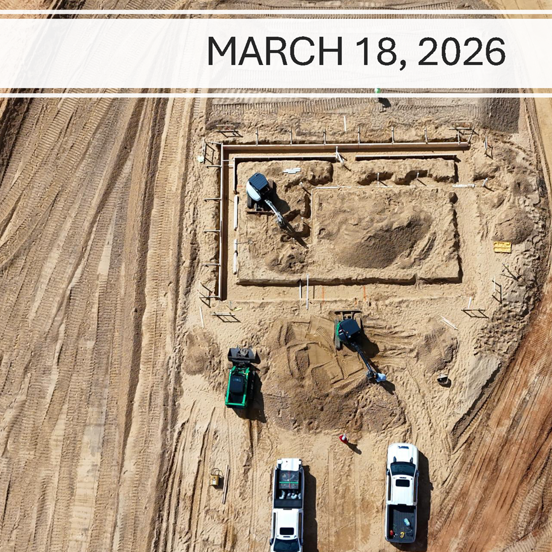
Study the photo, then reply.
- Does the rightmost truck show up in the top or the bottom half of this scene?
bottom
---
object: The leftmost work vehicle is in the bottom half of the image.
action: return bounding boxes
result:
[223,353,259,411]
